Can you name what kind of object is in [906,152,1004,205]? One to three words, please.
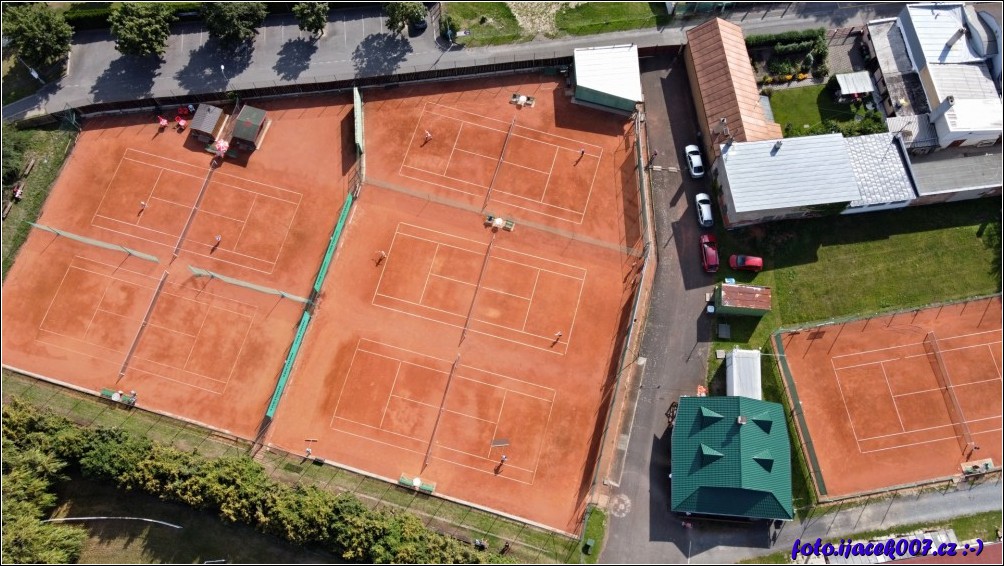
shed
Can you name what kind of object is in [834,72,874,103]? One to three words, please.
gazebo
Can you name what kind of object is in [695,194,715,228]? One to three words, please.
car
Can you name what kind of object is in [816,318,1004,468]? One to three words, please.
tennis court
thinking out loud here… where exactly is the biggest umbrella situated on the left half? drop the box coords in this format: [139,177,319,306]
[211,139,225,154]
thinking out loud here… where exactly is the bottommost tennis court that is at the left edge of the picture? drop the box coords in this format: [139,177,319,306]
[18,242,274,409]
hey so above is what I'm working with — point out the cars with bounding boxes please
[700,235,720,273]
[695,194,715,228]
[685,145,705,179]
[728,253,764,273]
[171,3,200,21]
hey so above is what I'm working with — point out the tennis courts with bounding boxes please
[75,136,318,287]
[355,209,603,370]
[383,89,619,237]
[18,242,274,409]
[816,318,1004,468]
[313,324,574,501]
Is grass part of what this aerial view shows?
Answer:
Yes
